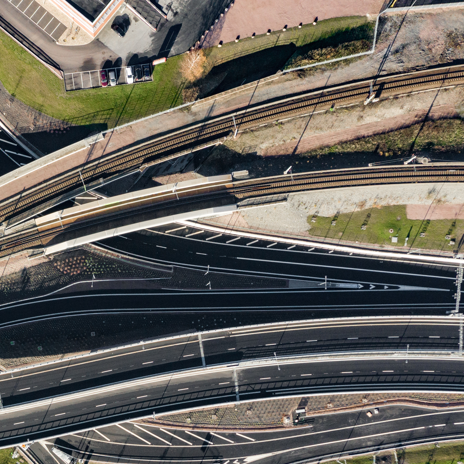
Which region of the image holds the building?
top left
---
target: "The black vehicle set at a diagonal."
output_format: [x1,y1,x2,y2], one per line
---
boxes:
[111,22,126,37]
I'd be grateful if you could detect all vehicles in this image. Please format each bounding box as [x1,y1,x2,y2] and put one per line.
[126,66,133,82]
[134,64,142,80]
[143,64,151,79]
[101,69,108,86]
[108,70,116,86]
[111,22,126,37]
